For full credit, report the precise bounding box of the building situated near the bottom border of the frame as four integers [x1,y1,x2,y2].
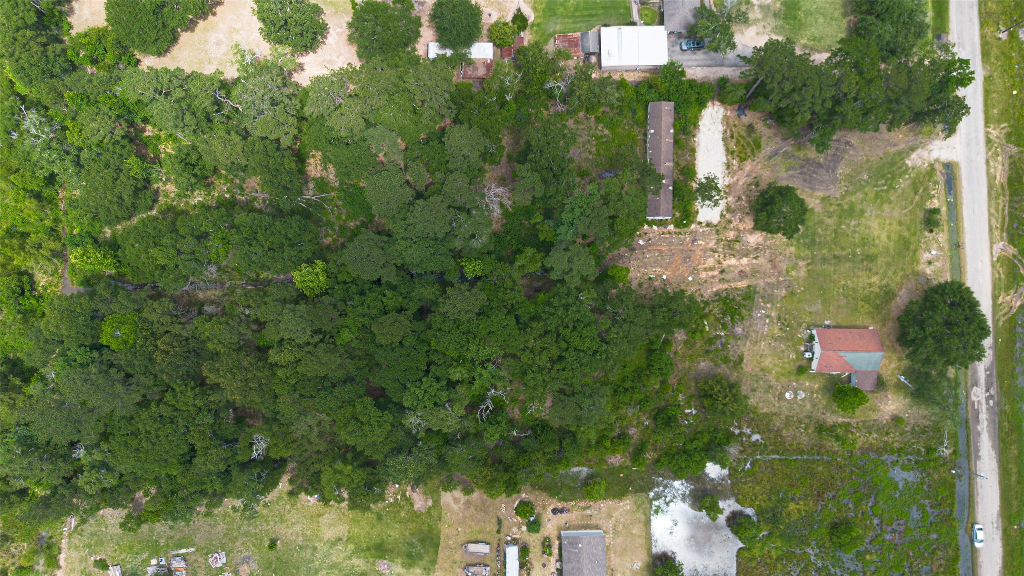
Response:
[561,530,608,576]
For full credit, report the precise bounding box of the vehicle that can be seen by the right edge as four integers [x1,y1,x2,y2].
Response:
[970,522,984,548]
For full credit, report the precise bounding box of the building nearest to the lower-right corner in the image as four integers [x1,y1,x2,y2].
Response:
[809,329,885,390]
